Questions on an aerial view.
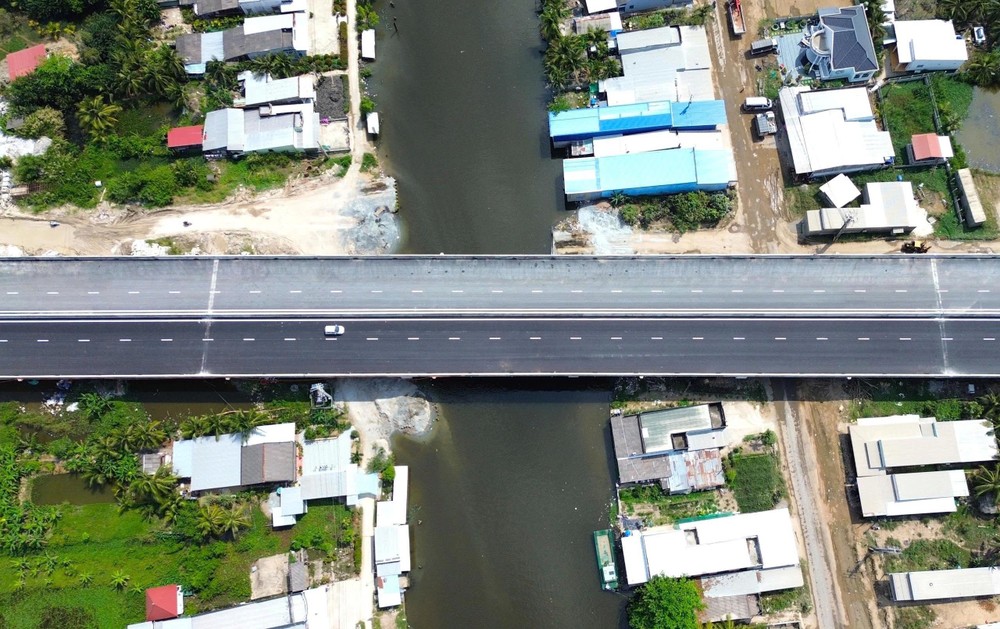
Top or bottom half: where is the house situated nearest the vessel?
bottom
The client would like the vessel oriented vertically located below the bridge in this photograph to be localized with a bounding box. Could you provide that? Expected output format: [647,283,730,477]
[594,530,621,590]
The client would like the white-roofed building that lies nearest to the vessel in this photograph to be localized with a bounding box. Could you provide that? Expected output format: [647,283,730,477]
[620,508,799,584]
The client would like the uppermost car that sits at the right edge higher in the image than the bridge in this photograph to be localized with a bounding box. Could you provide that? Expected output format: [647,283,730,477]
[973,28,985,43]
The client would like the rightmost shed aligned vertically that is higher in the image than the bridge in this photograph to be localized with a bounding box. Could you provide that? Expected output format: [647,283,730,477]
[955,168,986,229]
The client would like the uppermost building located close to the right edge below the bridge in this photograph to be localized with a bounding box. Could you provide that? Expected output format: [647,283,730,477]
[844,415,998,477]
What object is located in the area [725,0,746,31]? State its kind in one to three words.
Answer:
truck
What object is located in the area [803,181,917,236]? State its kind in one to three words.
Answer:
house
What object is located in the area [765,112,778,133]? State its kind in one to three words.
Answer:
vehicle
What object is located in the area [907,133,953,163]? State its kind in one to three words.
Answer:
building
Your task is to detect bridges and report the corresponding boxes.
[0,252,1000,381]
